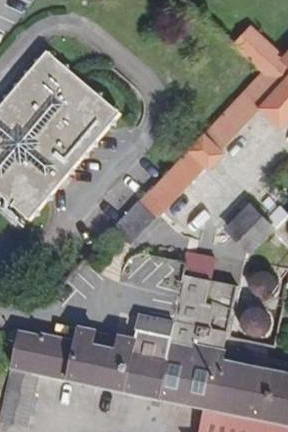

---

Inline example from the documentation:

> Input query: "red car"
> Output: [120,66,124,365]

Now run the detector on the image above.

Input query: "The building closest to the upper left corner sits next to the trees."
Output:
[0,51,125,223]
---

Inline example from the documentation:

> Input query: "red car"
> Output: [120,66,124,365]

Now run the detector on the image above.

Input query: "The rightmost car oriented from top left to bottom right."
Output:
[140,157,158,176]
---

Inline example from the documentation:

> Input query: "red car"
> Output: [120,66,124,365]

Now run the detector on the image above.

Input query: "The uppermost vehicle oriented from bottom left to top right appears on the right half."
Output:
[228,136,248,156]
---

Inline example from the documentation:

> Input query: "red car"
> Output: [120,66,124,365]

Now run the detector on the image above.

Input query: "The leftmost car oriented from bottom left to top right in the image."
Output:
[172,194,189,214]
